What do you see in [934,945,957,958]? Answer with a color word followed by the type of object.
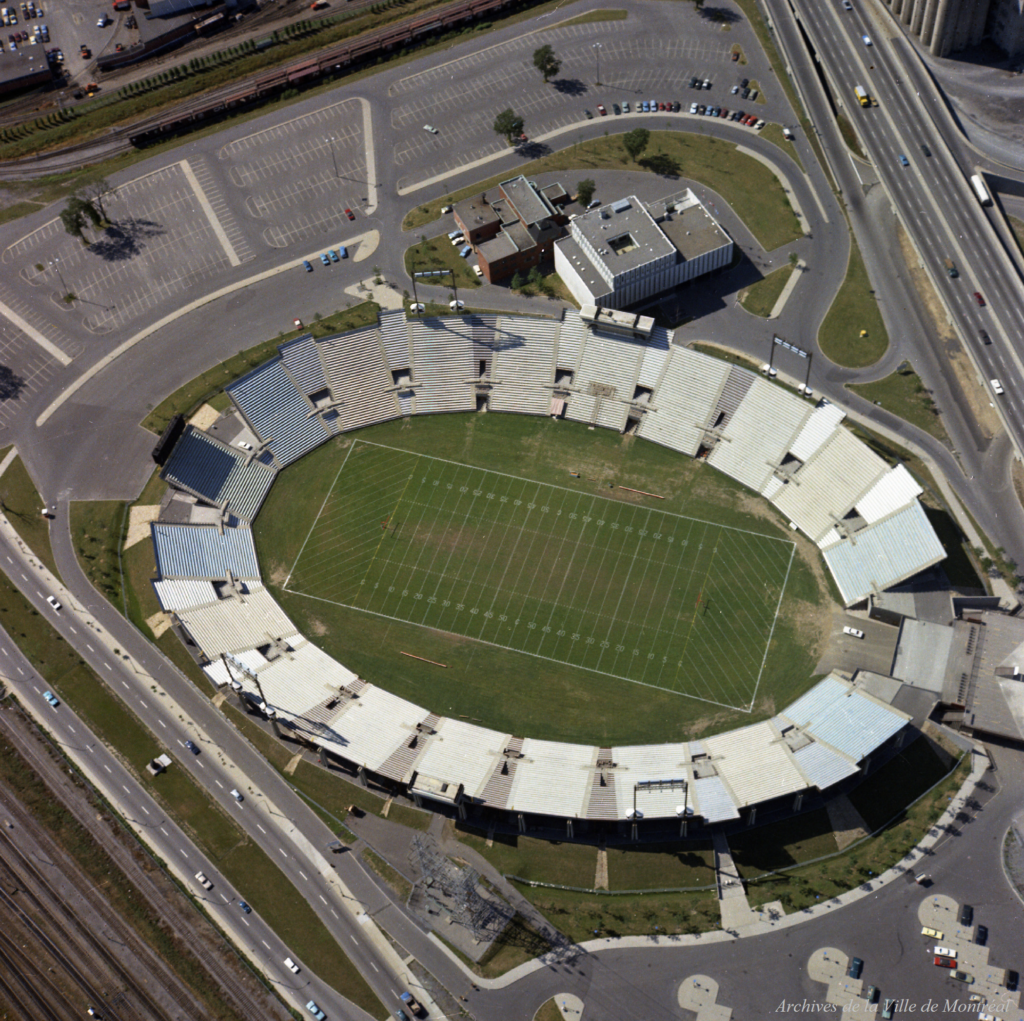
white vehicle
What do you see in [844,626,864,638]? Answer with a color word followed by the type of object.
white vehicle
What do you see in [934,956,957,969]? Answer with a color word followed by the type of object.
red vehicle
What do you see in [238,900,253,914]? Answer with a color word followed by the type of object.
blue car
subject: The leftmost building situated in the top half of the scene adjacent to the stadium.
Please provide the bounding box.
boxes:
[453,175,566,284]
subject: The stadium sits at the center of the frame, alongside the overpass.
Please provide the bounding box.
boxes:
[123,310,944,841]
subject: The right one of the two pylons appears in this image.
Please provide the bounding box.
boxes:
[457,880,508,944]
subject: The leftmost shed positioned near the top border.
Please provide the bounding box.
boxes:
[0,43,60,103]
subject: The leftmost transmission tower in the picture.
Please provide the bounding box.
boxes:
[401,849,460,905]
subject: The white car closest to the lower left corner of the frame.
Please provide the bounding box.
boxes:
[195,872,213,889]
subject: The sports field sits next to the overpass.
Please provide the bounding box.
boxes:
[252,411,845,747]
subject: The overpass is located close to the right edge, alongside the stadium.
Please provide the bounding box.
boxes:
[786,0,1024,466]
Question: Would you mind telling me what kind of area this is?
sports ground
